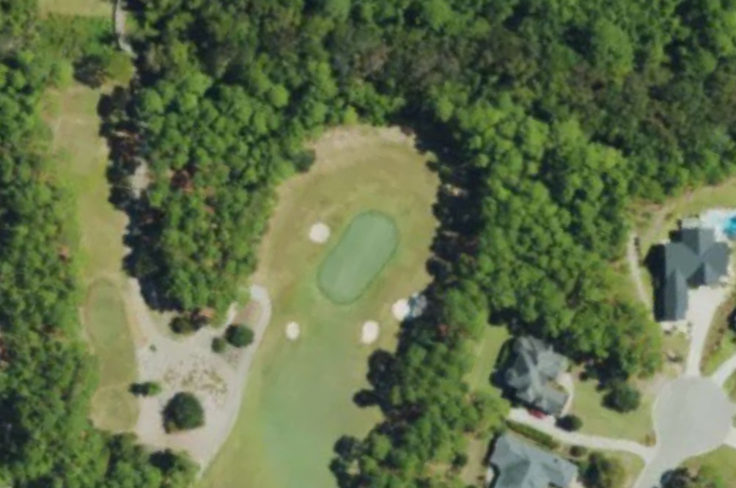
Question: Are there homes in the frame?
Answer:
Yes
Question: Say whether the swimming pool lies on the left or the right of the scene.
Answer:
right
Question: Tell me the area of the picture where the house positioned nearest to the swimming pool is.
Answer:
right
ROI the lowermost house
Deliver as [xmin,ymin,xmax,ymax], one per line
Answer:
[491,432,580,488]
